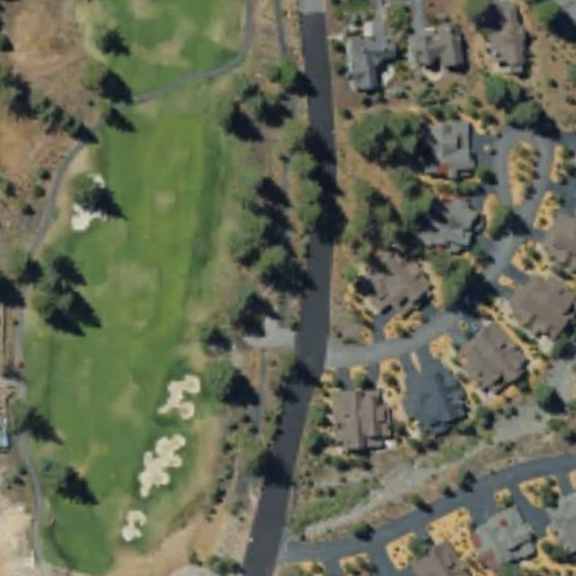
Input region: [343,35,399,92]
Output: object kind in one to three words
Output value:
house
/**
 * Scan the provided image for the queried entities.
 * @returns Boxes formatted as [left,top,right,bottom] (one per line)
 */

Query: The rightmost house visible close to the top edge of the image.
[490,0,531,74]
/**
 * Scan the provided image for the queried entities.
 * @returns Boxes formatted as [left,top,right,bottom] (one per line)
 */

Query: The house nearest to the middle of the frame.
[371,250,435,315]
